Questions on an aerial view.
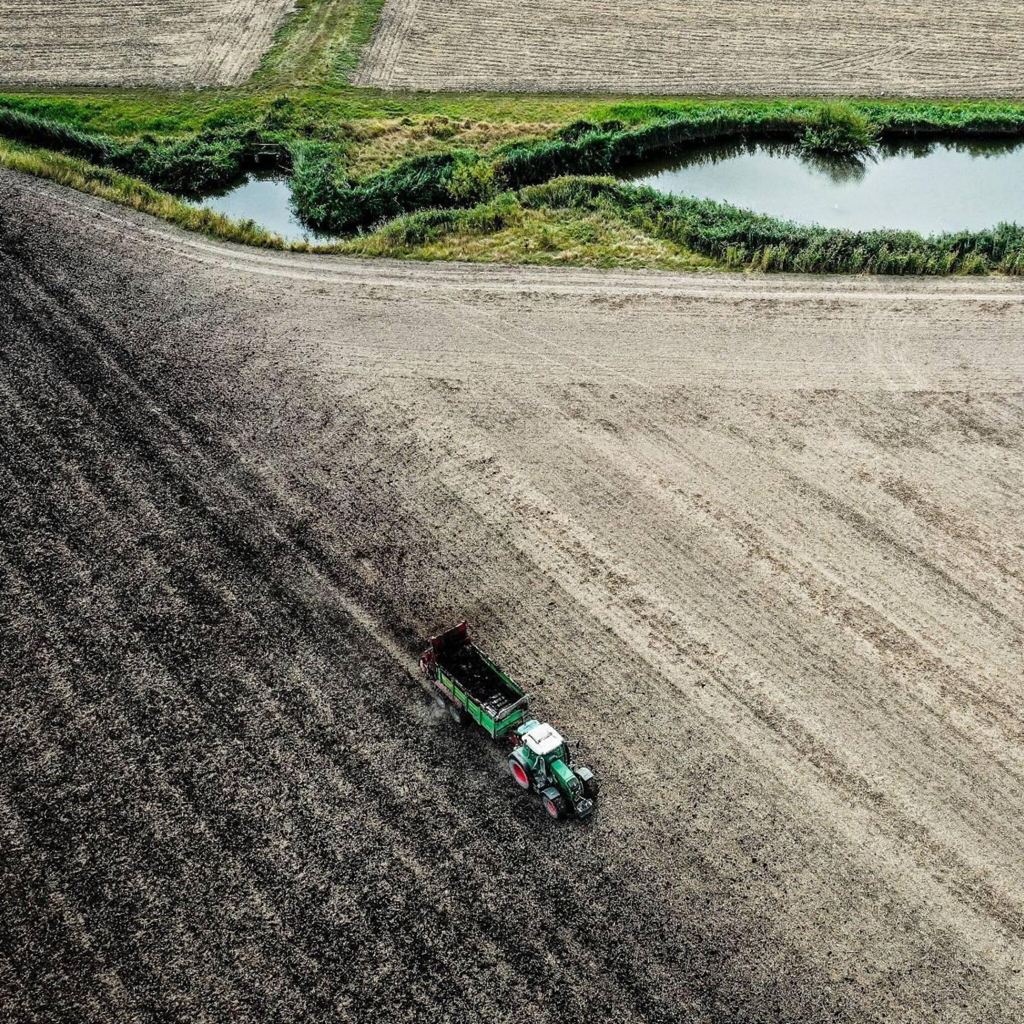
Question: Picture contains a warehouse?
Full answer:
No, no warehouse can be seen from above.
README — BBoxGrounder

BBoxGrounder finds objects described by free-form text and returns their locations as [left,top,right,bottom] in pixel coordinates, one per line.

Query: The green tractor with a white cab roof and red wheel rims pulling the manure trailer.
[506,717,596,820]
